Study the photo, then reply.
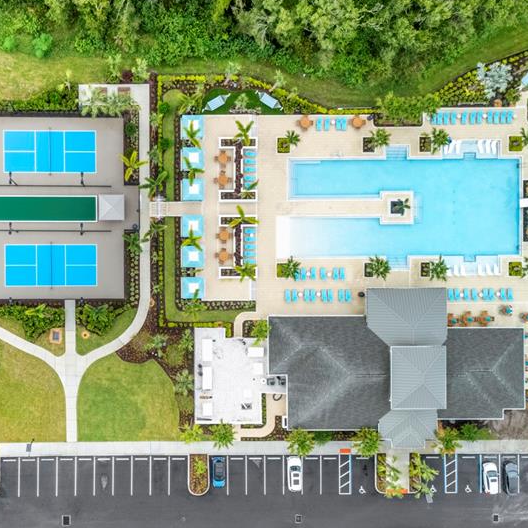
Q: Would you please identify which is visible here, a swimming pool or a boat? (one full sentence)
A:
Visible in the photo is a swimming pool.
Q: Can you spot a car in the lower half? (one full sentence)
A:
Yes, I can see a car in the lower half.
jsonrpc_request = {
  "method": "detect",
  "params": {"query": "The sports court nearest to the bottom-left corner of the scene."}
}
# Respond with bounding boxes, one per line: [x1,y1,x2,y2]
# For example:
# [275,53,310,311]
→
[5,241,97,288]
